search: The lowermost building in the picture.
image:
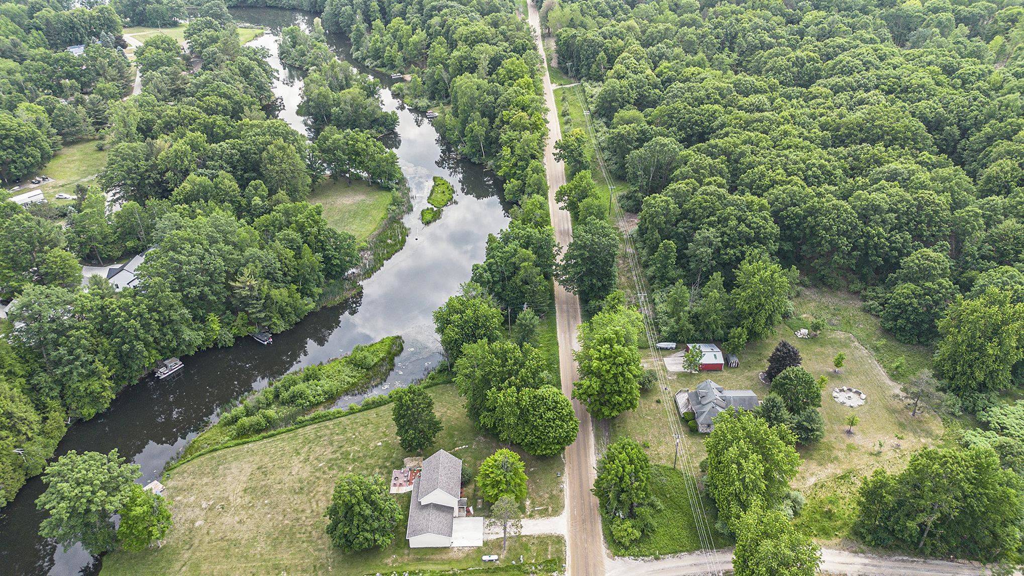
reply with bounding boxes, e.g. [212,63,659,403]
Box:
[406,447,468,547]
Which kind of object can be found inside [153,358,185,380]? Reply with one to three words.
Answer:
boat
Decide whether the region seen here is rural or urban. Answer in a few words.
rural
